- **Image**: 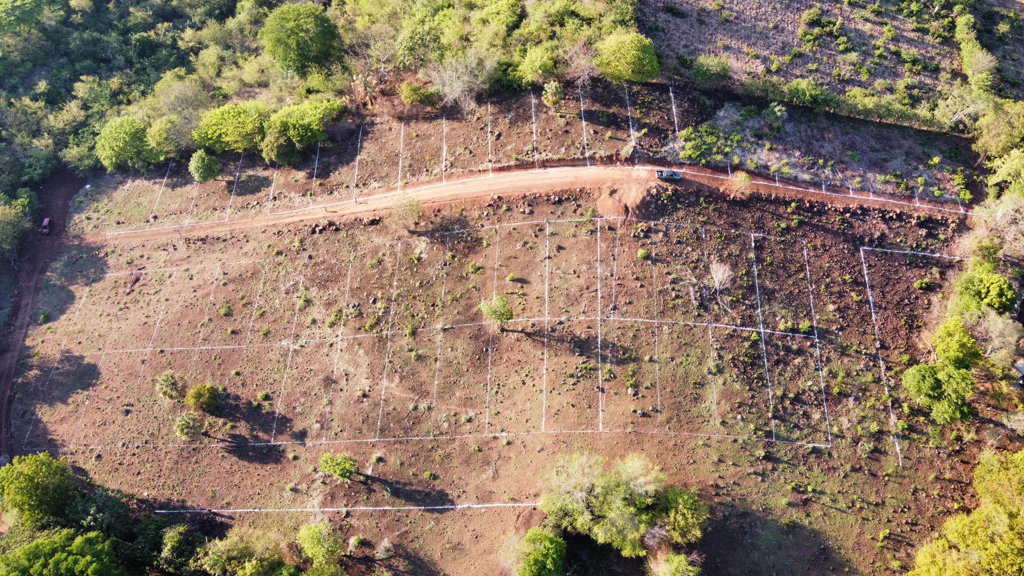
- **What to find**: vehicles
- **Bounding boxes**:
[654,170,682,182]
[39,217,53,235]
